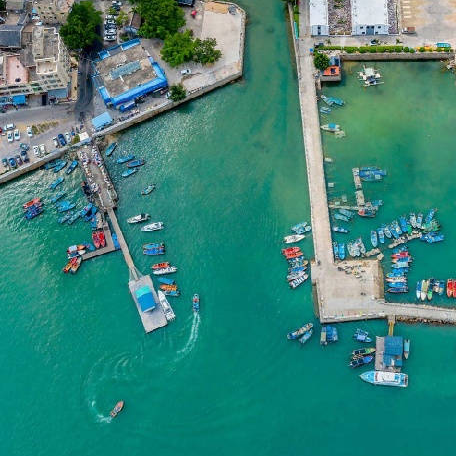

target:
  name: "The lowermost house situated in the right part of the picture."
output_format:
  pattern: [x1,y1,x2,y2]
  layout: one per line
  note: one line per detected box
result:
[320,52,341,82]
